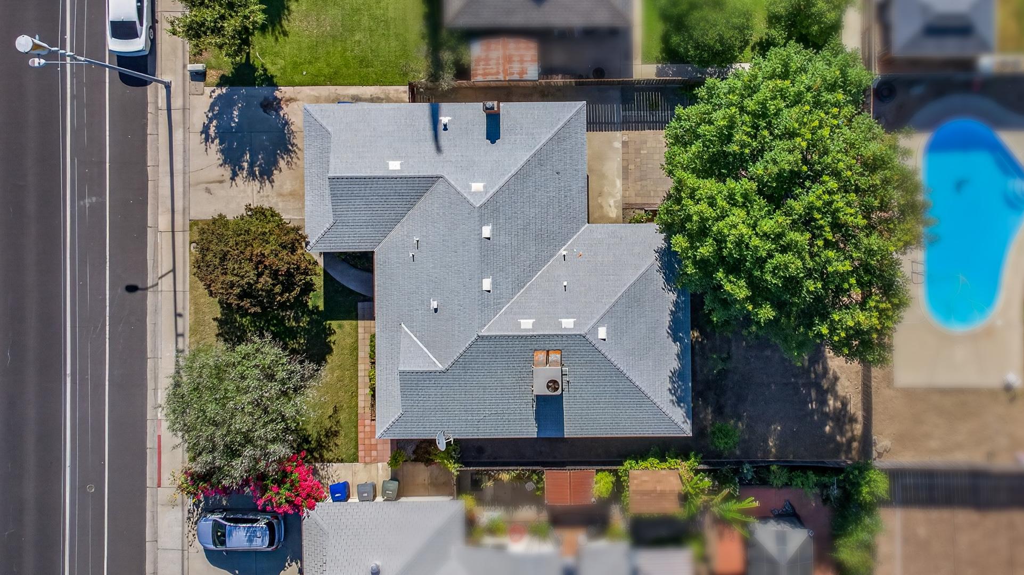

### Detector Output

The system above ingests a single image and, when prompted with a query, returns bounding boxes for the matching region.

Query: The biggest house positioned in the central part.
[303,97,693,440]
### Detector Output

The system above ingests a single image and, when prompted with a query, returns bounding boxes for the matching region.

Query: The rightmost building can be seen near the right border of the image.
[878,0,997,58]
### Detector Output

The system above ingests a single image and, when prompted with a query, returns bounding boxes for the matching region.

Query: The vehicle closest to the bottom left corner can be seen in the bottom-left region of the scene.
[197,509,288,559]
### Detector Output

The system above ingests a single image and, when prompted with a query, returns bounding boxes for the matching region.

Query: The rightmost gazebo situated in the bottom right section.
[737,506,813,575]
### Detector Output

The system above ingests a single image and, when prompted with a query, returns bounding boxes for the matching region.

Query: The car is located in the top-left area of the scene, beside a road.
[108,0,156,56]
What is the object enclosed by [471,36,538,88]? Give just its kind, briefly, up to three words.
shed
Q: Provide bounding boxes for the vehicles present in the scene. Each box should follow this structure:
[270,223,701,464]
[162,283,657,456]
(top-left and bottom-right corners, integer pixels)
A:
[108,0,156,56]
[197,509,288,559]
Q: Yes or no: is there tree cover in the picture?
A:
Yes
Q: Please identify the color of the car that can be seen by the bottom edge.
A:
blue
